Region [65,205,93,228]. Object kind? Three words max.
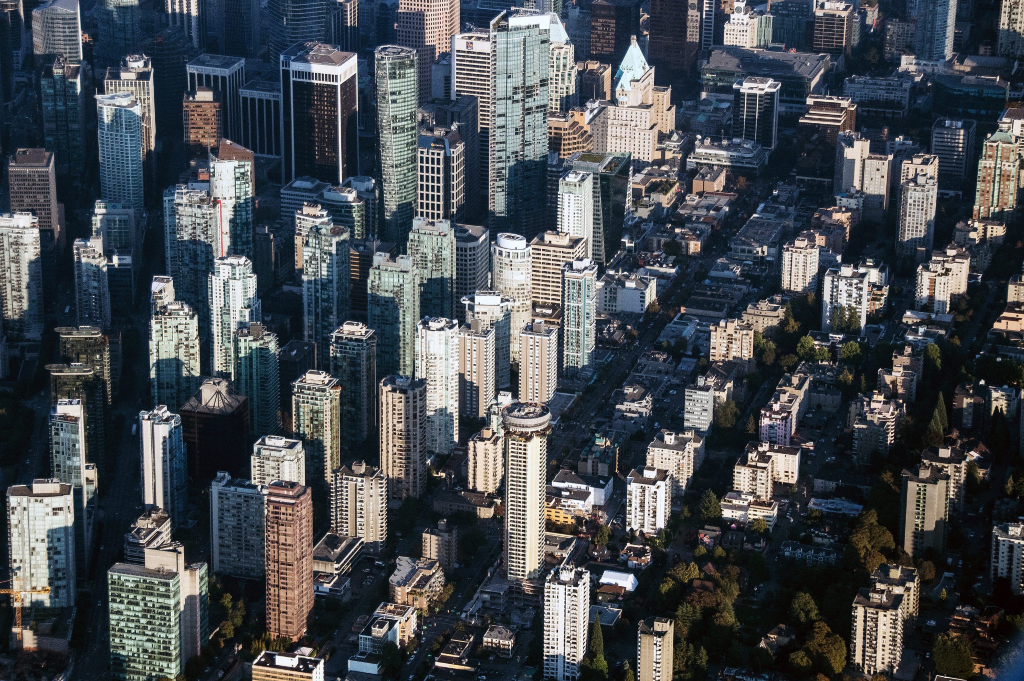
building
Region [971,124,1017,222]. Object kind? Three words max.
building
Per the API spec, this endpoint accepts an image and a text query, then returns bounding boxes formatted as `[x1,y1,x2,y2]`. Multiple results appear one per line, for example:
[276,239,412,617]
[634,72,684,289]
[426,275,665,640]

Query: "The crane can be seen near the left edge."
[0,578,52,656]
